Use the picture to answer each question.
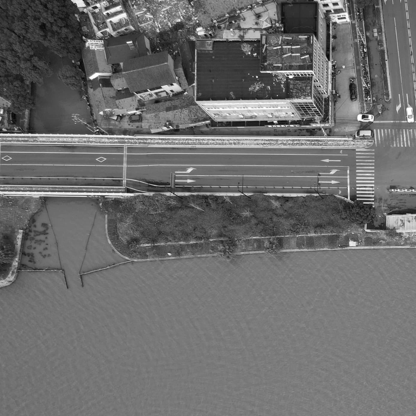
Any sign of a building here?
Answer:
Yes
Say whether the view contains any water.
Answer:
Yes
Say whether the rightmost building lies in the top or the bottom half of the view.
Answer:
top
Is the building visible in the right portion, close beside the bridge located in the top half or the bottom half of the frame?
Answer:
top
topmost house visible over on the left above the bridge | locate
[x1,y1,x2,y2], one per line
[74,0,139,38]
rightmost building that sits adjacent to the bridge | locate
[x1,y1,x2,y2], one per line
[196,2,330,119]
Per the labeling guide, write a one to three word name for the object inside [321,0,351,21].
building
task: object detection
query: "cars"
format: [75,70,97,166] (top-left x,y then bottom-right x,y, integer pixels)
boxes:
[7,111,17,127]
[349,84,357,101]
[358,113,375,122]
[406,106,414,124]
[356,130,374,139]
